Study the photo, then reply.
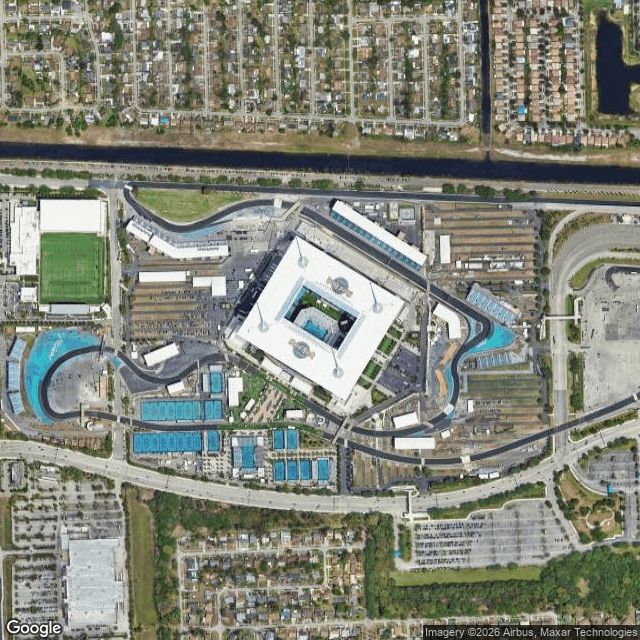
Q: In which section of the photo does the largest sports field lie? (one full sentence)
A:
You can find the largest sports field in the left area of the picture.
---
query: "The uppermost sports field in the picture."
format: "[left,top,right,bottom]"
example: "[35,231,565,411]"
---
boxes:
[41,234,104,304]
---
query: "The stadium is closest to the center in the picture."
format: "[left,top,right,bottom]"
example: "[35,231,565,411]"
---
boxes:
[227,235,404,400]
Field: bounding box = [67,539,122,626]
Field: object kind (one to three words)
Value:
building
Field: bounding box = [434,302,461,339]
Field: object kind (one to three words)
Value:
building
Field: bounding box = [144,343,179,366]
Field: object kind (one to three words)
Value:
tent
